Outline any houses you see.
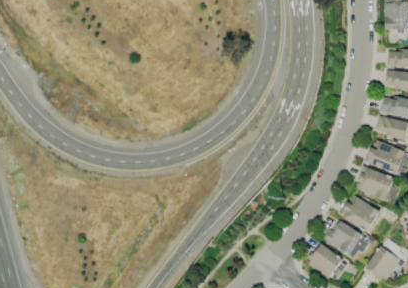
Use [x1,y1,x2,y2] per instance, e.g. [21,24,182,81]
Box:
[309,245,343,278]
[376,116,408,142]
[366,142,406,175]
[326,221,364,258]
[356,167,396,202]
[342,196,380,234]
[386,71,408,92]
[368,248,401,282]
[382,97,408,118]
[386,0,408,31]
[388,50,408,70]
